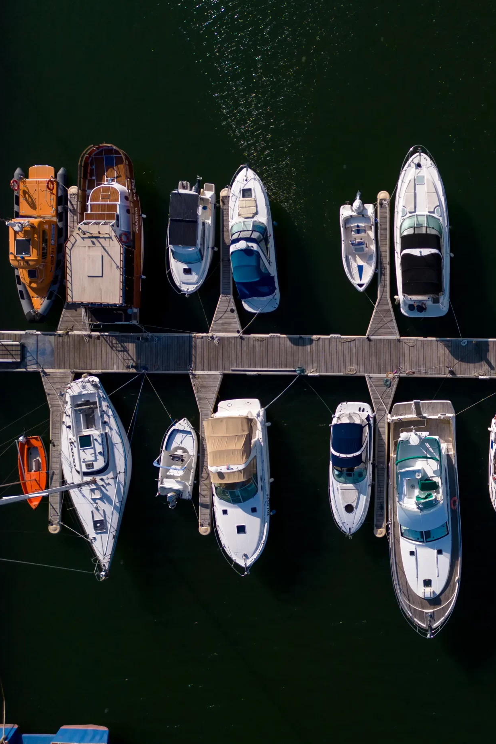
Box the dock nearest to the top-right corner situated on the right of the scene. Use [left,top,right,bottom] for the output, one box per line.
[365,191,401,337]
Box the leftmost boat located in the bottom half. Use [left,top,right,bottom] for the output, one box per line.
[0,428,50,510]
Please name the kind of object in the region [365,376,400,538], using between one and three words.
pier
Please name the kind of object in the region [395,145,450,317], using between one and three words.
boat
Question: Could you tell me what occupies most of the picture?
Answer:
water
